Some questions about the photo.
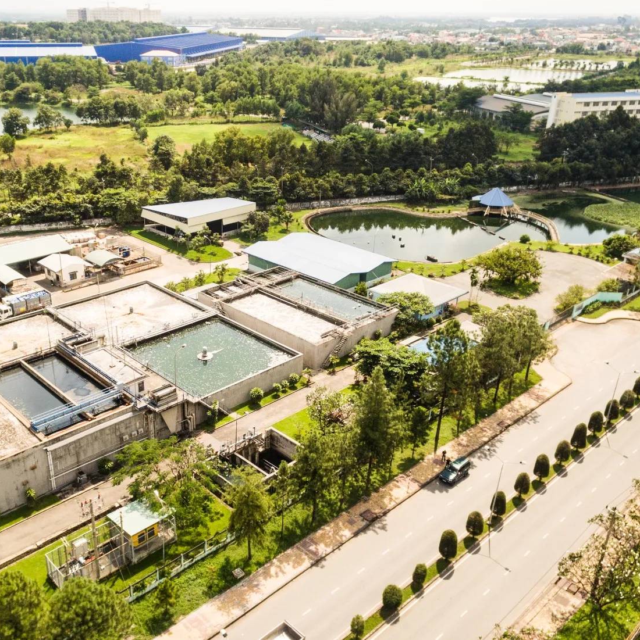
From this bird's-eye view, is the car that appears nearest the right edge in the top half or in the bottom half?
bottom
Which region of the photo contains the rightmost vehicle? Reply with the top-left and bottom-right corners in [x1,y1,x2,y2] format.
[443,457,477,485]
